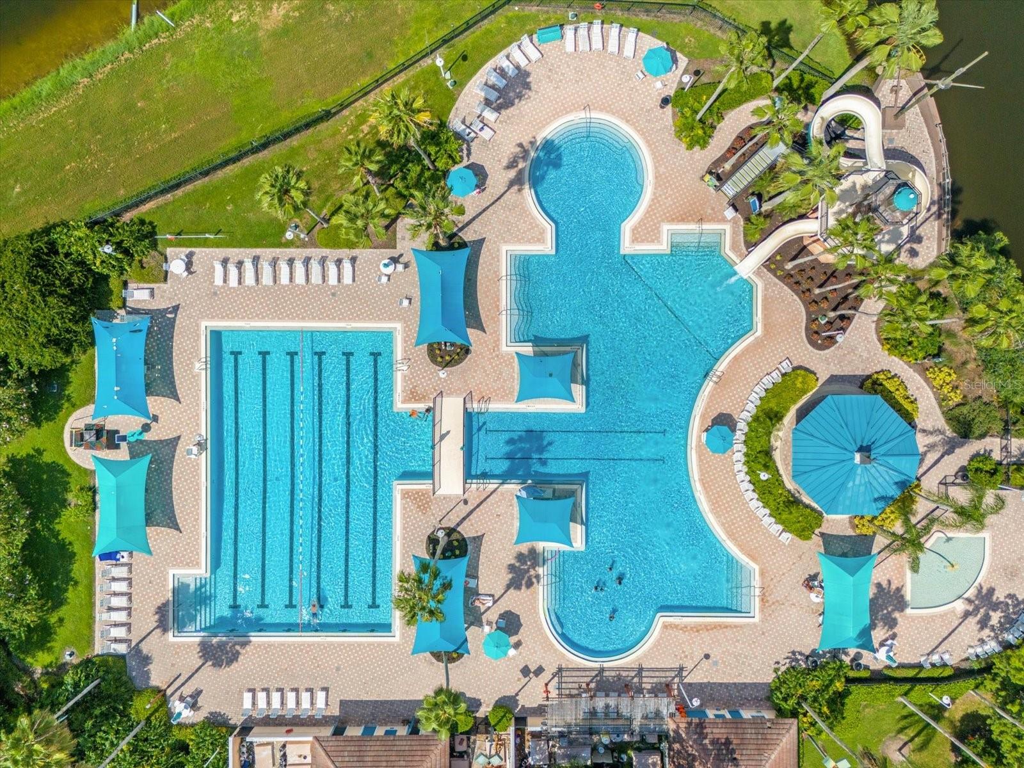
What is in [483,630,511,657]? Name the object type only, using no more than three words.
umbrella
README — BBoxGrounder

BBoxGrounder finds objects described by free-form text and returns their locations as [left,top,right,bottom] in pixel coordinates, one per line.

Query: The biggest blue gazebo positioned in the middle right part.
[784,394,921,516]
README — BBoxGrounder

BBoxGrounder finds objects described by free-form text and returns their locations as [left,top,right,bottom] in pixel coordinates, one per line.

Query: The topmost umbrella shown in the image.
[642,47,673,78]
